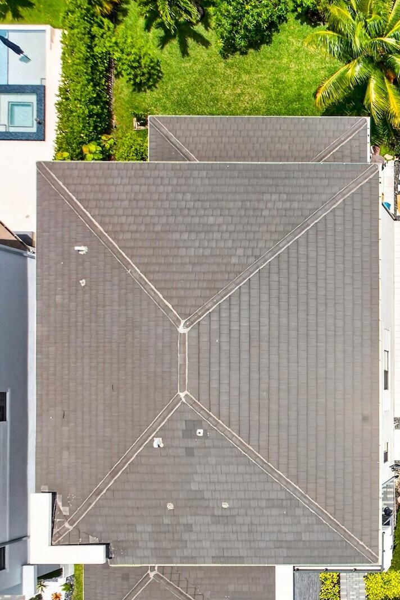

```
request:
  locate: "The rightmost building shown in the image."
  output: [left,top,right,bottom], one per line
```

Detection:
[29,113,398,600]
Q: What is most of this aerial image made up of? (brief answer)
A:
buildings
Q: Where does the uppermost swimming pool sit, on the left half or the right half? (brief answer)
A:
left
